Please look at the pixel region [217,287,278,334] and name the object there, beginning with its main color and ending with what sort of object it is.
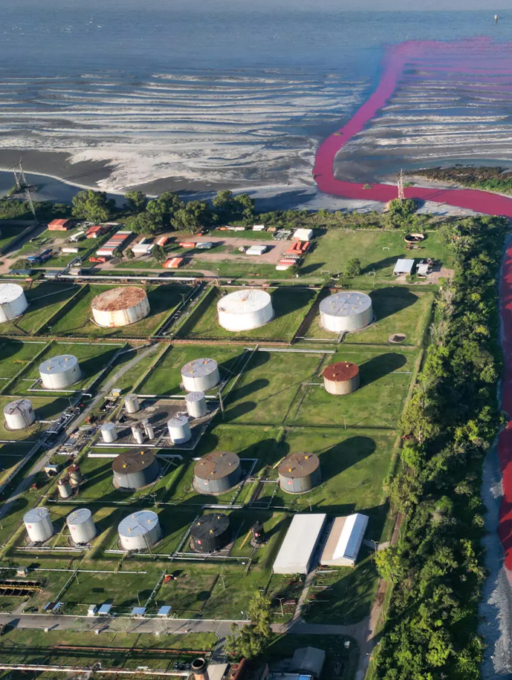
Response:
white storage tank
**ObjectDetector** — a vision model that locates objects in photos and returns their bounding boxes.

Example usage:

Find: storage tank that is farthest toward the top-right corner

[318,290,376,335]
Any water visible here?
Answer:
Yes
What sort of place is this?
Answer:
industrial area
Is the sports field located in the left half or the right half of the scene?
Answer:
right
